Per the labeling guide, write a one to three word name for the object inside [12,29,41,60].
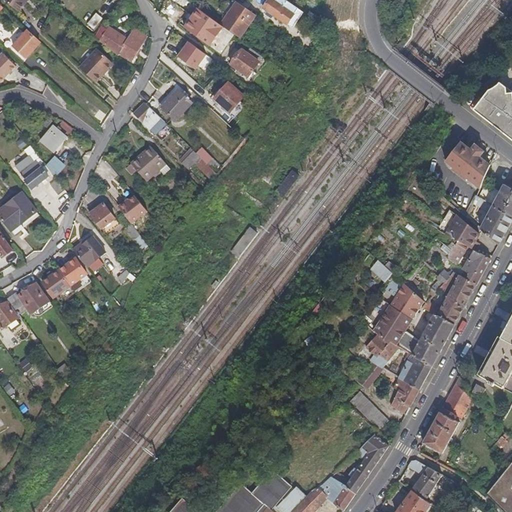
house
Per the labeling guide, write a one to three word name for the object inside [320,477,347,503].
building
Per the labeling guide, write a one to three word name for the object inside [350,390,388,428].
building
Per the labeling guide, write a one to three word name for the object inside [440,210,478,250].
house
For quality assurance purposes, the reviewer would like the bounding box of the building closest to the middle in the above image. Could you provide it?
[232,227,258,256]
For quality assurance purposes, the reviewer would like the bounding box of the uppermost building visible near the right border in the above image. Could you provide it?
[473,82,512,140]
